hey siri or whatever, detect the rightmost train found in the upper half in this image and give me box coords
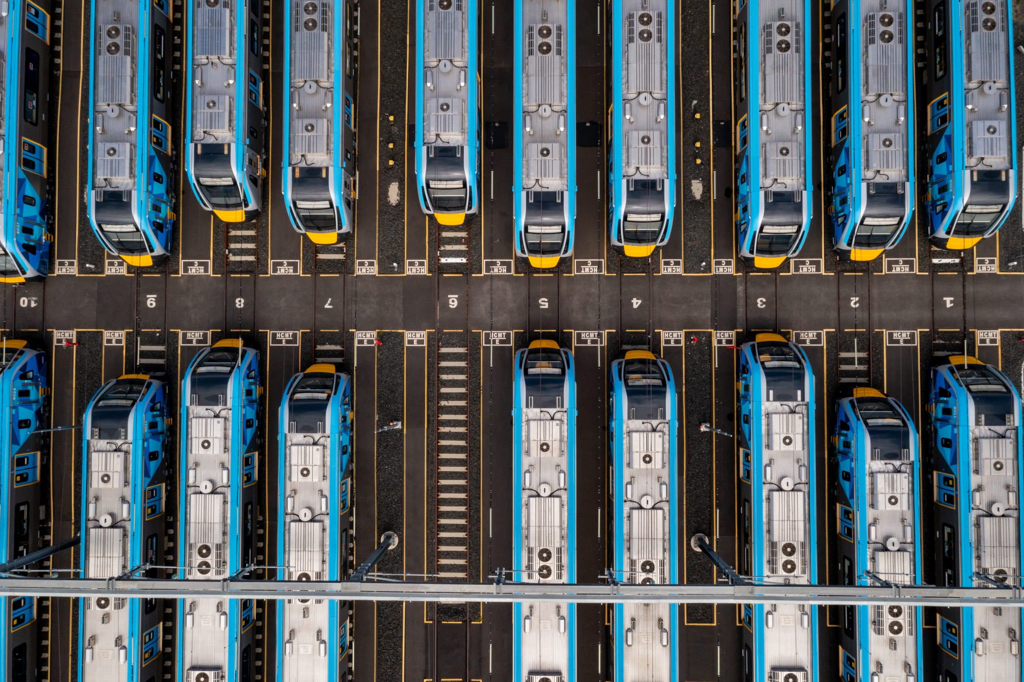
[920,0,1017,250]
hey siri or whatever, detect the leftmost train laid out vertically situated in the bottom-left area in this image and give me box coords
[0,338,52,682]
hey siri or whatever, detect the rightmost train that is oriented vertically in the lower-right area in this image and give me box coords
[924,354,1024,682]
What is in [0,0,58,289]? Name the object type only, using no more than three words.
train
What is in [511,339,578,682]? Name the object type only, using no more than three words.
train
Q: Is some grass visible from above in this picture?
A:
No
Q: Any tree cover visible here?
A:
No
